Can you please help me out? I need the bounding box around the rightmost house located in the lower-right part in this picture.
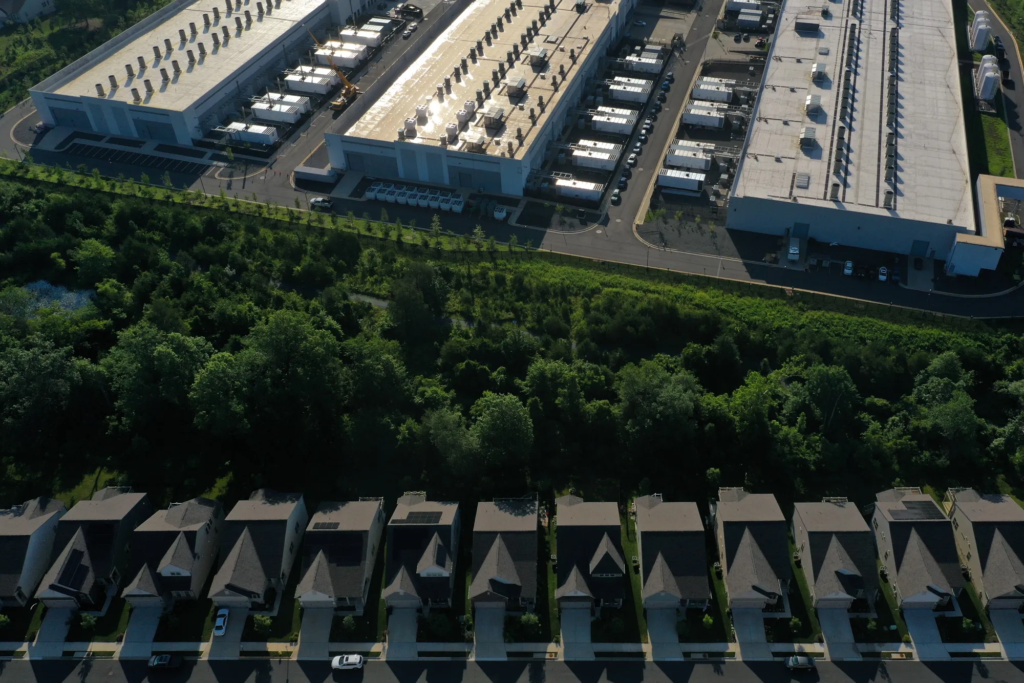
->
[937,489,1024,610]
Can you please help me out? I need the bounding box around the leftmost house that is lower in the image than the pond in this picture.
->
[0,488,77,612]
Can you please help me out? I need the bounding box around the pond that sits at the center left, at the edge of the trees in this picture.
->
[17,280,95,313]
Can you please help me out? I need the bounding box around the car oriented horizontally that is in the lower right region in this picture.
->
[785,656,817,671]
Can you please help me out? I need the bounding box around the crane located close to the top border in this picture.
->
[303,24,363,109]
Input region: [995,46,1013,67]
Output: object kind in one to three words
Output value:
vehicle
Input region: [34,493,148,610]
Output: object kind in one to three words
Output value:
house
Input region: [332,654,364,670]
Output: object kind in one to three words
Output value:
car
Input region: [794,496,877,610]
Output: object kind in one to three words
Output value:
house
